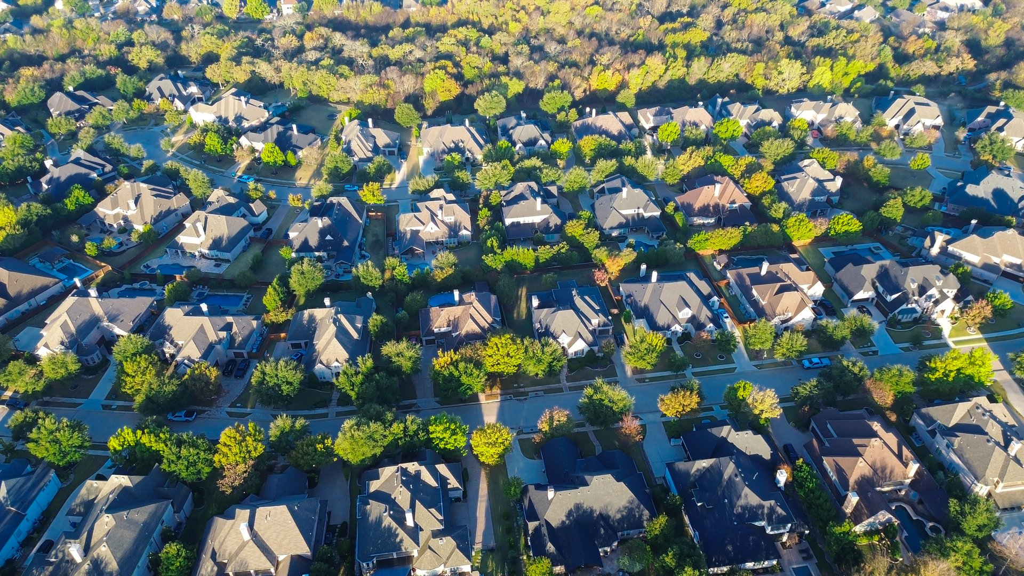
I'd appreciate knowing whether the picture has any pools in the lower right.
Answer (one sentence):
Yes, you'll find a pool in the lower right.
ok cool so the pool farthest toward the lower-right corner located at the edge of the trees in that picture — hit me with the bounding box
[893,506,950,552]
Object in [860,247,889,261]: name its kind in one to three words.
swimming pool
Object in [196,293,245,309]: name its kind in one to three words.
swimming pool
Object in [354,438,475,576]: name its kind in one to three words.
house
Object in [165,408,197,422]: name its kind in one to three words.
vehicle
